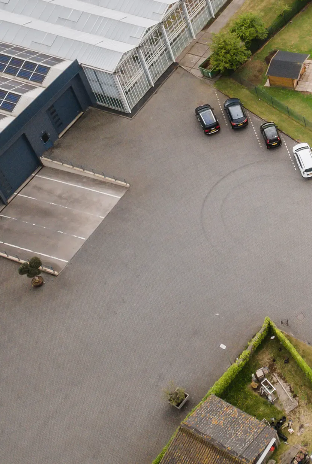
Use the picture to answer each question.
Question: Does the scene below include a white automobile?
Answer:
Yes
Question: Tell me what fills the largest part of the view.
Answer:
paved ground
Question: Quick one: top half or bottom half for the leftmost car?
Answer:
top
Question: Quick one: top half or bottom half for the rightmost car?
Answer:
top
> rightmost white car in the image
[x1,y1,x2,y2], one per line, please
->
[292,143,312,179]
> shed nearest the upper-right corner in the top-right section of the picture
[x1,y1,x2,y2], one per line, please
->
[264,52,307,90]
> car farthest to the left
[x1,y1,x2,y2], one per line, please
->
[193,103,220,136]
